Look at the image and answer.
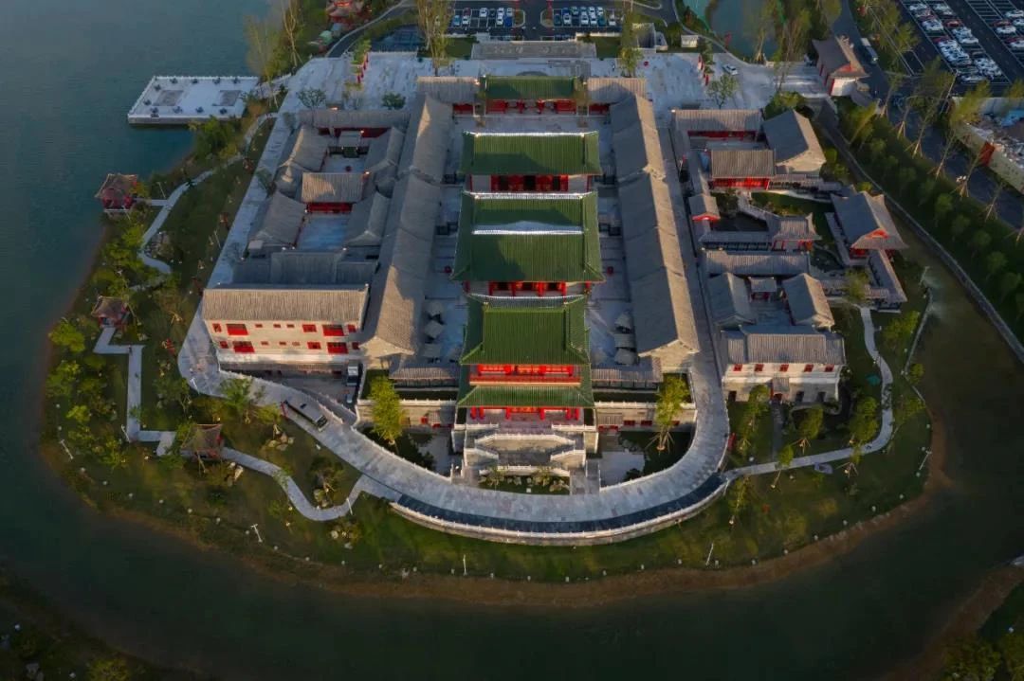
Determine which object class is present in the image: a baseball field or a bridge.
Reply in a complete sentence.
This aerial view contains a bridge.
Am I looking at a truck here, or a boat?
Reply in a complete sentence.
The one in the frame is a truck.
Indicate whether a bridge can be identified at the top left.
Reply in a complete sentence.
No, no bridge can be made out at the top left.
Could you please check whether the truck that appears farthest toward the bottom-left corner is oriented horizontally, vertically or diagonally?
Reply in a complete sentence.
In this picture, the truck that appears farthest toward the bottom-left corner lies diagonally.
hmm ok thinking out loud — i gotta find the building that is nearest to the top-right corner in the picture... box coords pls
[810,27,871,99]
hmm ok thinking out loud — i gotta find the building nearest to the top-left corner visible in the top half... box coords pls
[88,170,153,223]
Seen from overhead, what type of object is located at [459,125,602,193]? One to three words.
building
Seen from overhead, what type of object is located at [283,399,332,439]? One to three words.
truck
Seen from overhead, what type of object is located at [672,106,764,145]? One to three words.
house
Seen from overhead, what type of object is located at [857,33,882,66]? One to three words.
bus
